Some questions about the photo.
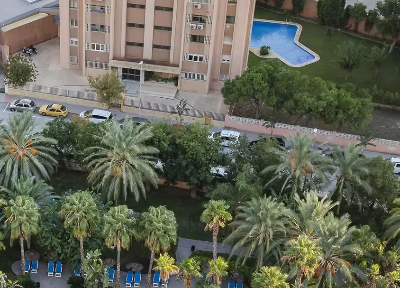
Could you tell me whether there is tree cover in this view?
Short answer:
Yes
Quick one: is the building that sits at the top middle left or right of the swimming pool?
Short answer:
on its left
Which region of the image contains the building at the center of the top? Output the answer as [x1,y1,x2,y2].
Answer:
[60,0,273,107]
